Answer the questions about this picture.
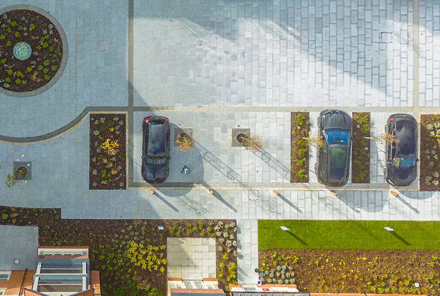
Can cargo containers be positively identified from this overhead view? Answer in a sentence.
No, the photo shows no cargo container.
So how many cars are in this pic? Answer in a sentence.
In total, 3 cars can be seen.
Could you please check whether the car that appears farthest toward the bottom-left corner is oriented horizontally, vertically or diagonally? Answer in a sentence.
The car that appears farthest toward the bottom-left corner has been laid out vertically relative to the frame.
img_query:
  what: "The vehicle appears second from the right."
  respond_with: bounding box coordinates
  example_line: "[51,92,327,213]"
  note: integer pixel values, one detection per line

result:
[313,109,357,186]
